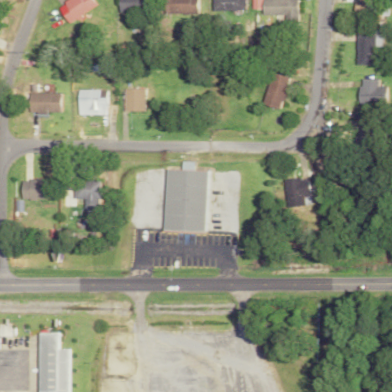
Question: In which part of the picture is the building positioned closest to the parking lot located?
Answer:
center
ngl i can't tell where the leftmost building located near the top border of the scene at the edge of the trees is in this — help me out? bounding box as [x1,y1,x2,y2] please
[61,0,100,23]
